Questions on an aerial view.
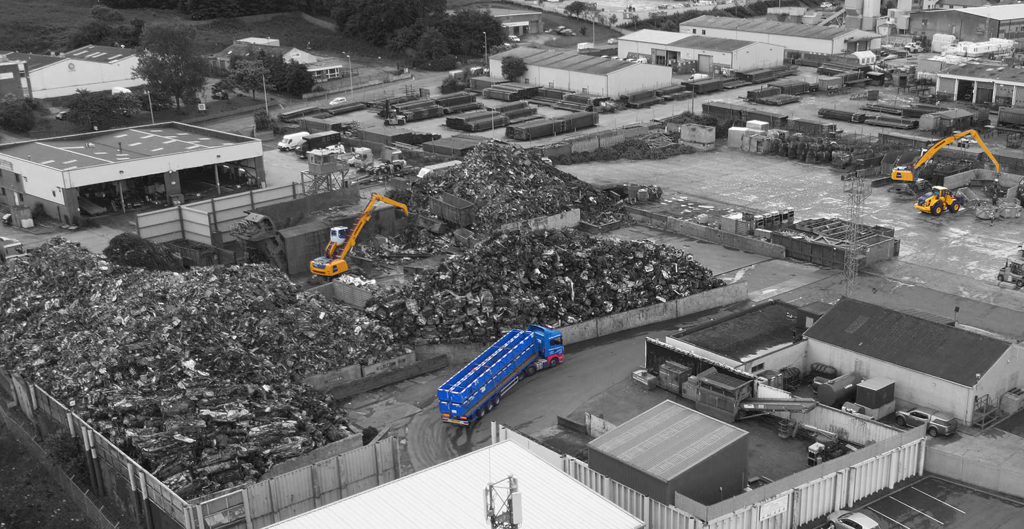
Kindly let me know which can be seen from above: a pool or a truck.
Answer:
truck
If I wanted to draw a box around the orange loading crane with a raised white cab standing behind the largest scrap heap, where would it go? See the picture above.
[311,190,419,282]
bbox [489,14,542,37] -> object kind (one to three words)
building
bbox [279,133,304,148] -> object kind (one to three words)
vehicle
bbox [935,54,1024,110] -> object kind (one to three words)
building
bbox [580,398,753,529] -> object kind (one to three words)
shed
